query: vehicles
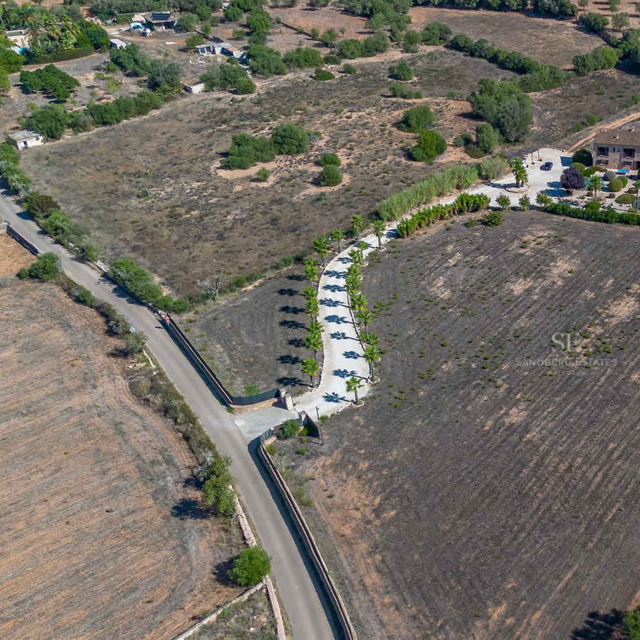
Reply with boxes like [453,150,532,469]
[542,161,554,171]
[514,158,534,168]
